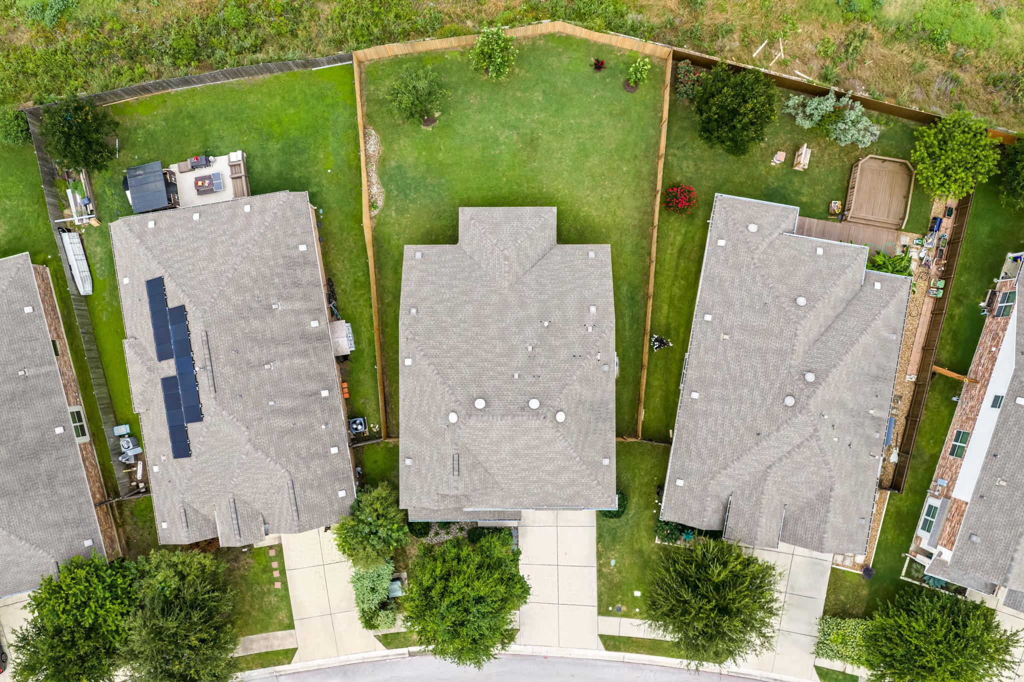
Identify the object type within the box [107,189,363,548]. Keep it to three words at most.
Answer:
house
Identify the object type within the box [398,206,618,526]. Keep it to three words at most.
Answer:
house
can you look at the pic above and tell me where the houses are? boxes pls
[107,189,363,548]
[658,191,913,554]
[398,206,618,526]
[908,249,1024,613]
[0,253,126,598]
